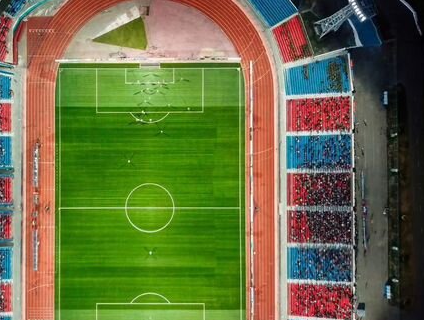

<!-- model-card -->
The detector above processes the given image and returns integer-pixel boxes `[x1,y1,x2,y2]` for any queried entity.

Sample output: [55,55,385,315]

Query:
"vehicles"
[380,90,388,106]
[382,283,390,298]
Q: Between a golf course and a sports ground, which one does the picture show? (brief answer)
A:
sports ground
